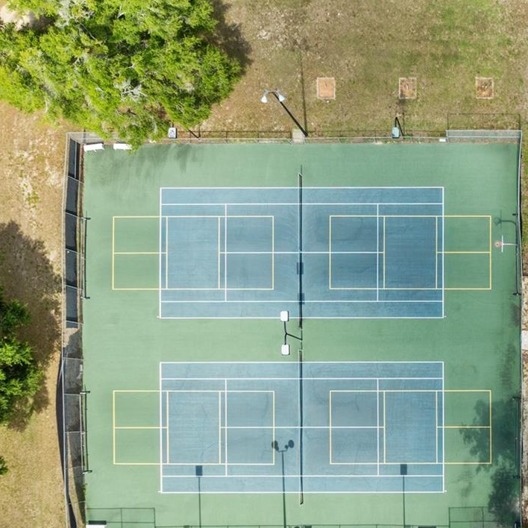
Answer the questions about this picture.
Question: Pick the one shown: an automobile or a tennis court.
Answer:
tennis court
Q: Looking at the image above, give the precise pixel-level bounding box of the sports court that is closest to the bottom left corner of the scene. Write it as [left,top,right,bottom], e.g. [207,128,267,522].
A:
[112,390,274,465]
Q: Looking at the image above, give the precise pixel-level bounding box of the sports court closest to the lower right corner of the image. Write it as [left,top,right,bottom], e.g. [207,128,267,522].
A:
[329,390,491,465]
